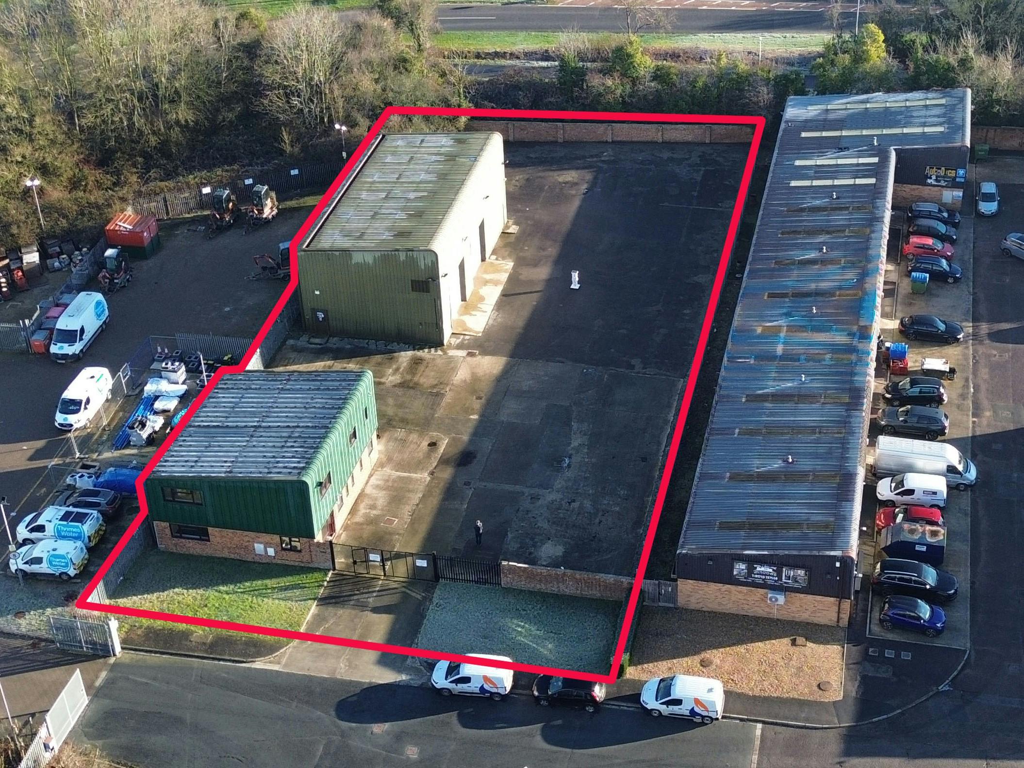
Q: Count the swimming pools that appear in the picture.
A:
none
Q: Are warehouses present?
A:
Yes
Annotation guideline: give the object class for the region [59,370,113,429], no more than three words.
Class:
van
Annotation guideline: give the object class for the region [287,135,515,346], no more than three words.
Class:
warehouse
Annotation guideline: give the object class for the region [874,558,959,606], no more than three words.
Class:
car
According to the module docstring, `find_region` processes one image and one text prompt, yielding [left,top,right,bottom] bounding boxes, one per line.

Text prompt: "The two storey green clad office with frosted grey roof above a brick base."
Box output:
[140,371,381,566]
